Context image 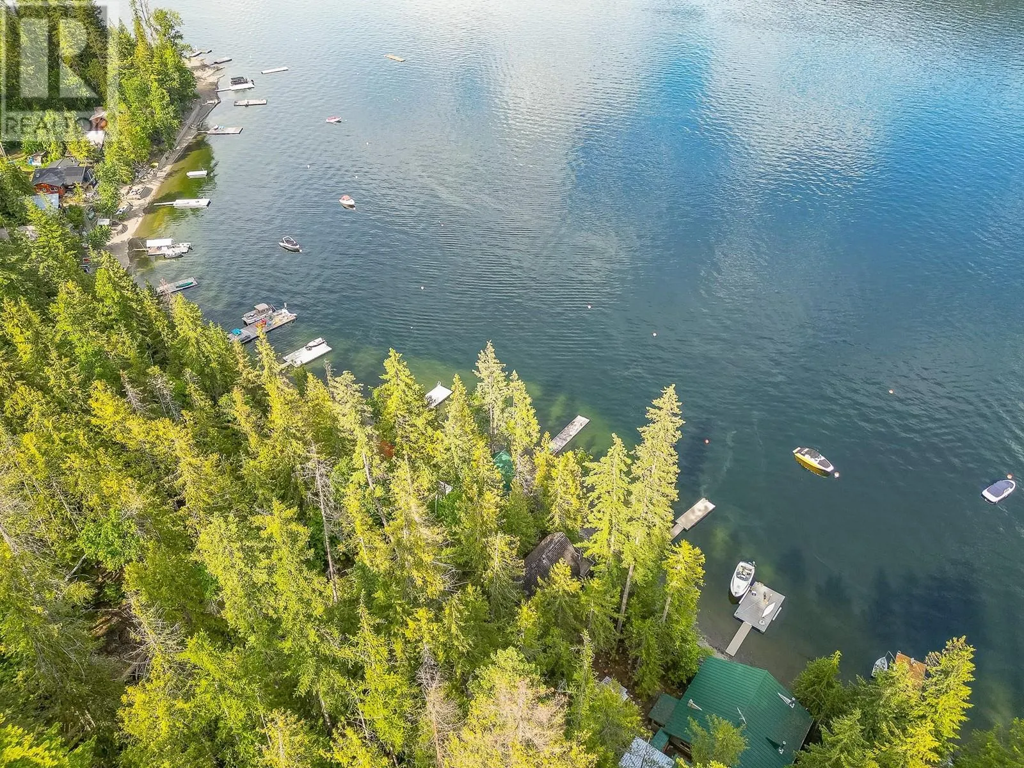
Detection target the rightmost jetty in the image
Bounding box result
[888,651,929,687]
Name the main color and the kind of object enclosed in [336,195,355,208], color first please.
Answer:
white boat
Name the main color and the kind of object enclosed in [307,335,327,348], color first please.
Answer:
white boat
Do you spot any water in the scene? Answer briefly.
Yes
